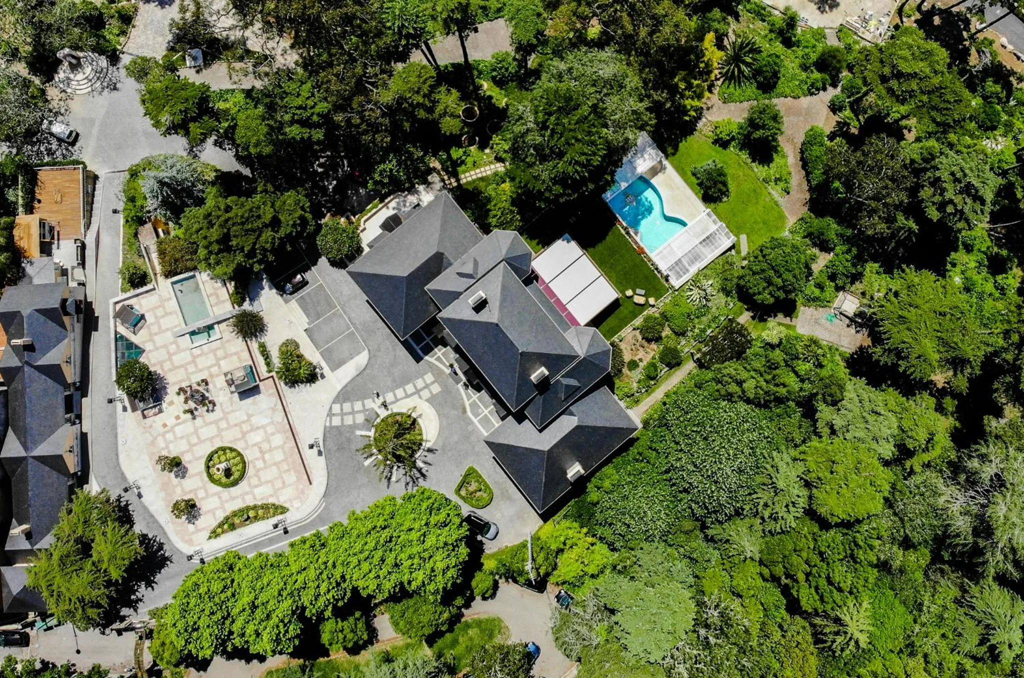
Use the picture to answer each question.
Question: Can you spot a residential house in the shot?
Yes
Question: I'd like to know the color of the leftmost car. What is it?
black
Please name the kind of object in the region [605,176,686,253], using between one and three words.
swimming pool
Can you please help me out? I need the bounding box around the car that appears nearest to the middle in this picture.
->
[465,510,504,546]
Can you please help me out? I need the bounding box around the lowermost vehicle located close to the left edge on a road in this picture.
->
[0,630,28,651]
